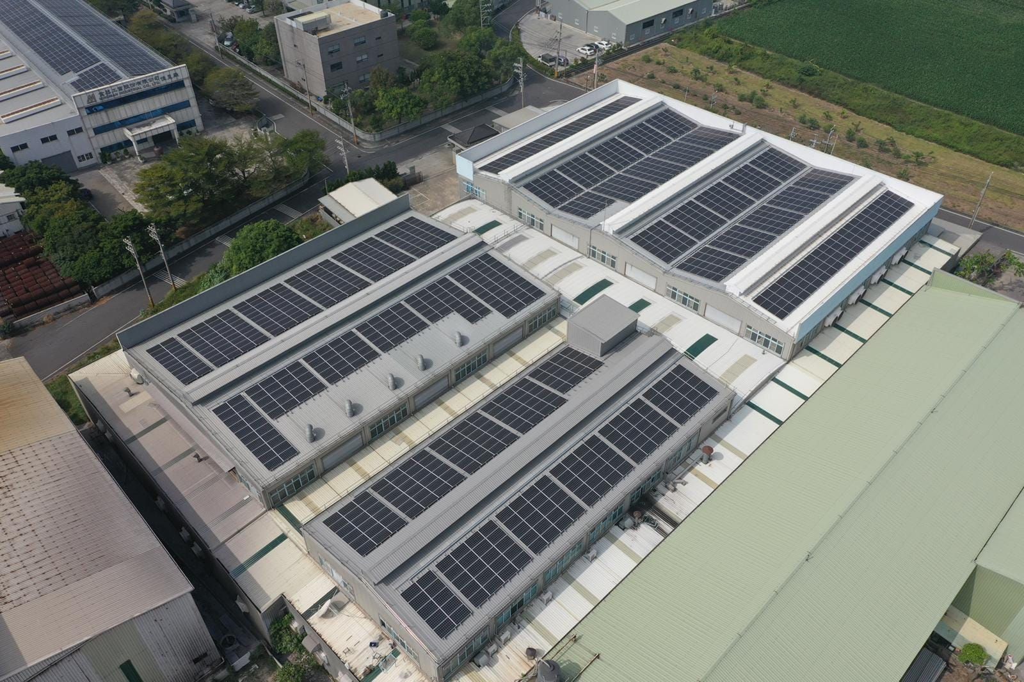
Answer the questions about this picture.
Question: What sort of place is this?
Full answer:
This image shows an industrial area.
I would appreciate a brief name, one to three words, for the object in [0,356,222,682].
warehouse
